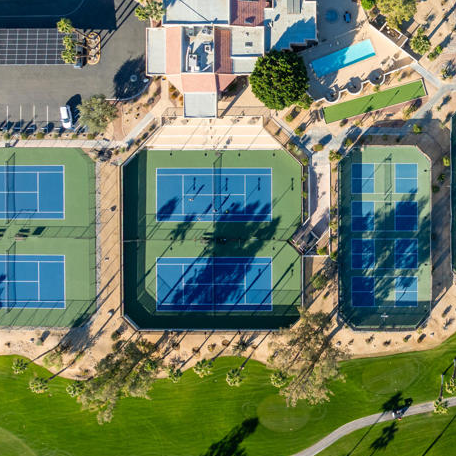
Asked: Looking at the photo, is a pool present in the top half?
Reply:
Yes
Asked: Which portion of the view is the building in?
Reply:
top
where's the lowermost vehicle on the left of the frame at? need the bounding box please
[59,105,74,130]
